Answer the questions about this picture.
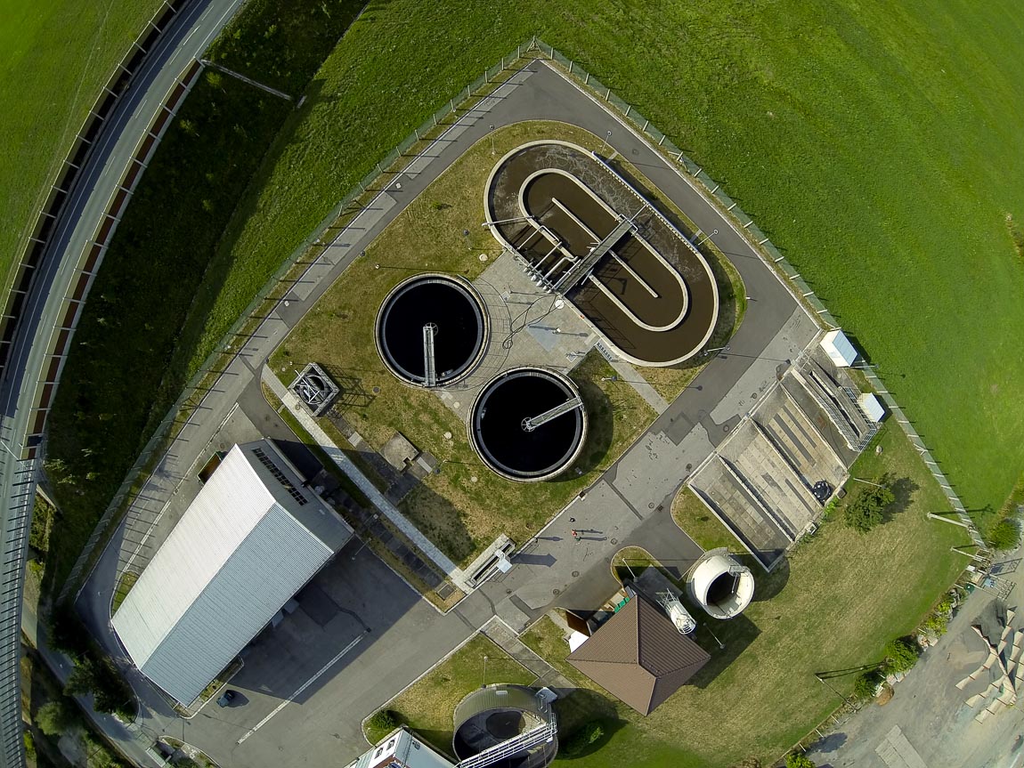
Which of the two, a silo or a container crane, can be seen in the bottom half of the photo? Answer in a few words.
silo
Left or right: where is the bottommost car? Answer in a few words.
left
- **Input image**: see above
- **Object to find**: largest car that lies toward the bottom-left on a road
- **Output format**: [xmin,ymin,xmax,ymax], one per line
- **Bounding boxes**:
[210,689,235,712]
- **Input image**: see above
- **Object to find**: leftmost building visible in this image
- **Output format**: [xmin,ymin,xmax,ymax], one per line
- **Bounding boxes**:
[109,439,349,708]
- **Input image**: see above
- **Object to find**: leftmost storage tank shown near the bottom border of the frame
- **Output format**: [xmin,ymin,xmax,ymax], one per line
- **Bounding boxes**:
[448,674,559,768]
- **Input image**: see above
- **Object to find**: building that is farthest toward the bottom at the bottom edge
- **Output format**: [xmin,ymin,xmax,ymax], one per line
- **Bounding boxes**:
[361,718,453,768]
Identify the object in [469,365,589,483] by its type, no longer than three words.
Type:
storage tank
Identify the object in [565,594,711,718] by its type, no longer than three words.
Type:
building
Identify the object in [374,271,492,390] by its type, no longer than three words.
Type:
storage tank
